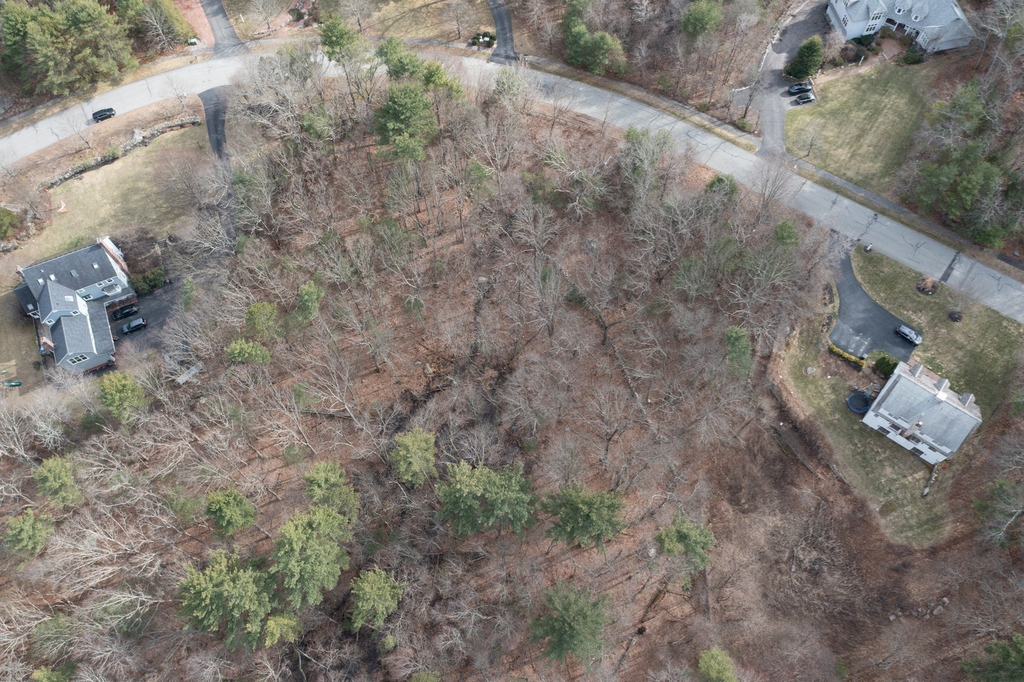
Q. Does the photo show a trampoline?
Yes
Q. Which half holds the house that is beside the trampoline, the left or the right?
right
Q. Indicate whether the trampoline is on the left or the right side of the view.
right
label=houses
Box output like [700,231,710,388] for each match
[862,364,982,469]
[12,232,138,376]
[827,0,984,52]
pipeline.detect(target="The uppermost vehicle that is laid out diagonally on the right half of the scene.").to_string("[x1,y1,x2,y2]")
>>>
[894,324,922,346]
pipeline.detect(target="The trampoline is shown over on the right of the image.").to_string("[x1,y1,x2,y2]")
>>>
[845,386,875,413]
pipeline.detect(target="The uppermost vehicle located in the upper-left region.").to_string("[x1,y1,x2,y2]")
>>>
[92,109,117,122]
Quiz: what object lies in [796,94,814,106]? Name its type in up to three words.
vehicle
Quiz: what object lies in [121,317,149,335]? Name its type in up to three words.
car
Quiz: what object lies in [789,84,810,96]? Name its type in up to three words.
vehicle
